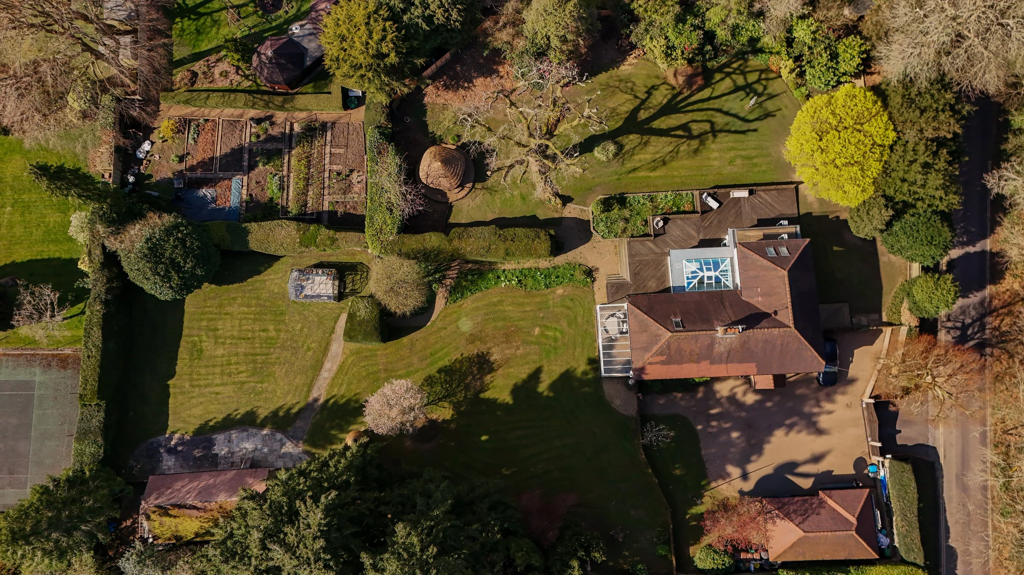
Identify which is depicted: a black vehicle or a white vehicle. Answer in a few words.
black vehicle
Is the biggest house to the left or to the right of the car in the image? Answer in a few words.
on the left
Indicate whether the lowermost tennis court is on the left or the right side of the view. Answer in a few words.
left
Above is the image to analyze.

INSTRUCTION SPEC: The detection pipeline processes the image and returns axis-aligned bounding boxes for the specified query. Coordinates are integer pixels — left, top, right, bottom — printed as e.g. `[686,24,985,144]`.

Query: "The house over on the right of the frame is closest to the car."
[625,224,826,389]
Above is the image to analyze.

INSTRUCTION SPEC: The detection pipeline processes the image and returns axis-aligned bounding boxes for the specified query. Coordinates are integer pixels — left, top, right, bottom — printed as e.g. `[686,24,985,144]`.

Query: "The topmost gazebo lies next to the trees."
[252,36,315,96]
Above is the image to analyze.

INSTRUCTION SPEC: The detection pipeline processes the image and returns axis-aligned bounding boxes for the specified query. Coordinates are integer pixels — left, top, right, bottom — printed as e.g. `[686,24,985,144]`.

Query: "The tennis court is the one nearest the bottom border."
[0,354,81,484]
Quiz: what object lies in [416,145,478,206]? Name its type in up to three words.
shed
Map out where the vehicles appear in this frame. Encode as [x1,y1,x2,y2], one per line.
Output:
[816,340,841,387]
